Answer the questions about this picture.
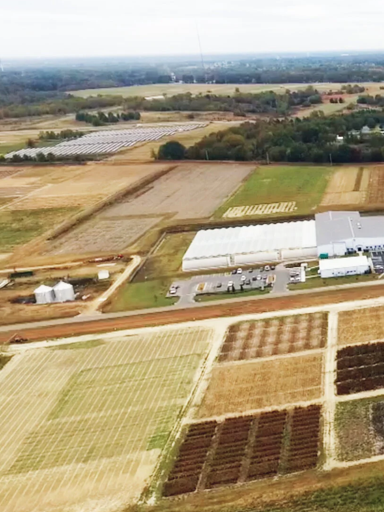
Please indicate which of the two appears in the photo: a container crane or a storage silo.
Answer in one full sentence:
The one in the frame is a storage silo.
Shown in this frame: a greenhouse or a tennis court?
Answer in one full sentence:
Looking from above, you can make out a greenhouse.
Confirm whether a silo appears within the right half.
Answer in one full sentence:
No, no silo is visible within the right half.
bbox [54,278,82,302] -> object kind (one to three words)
silo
